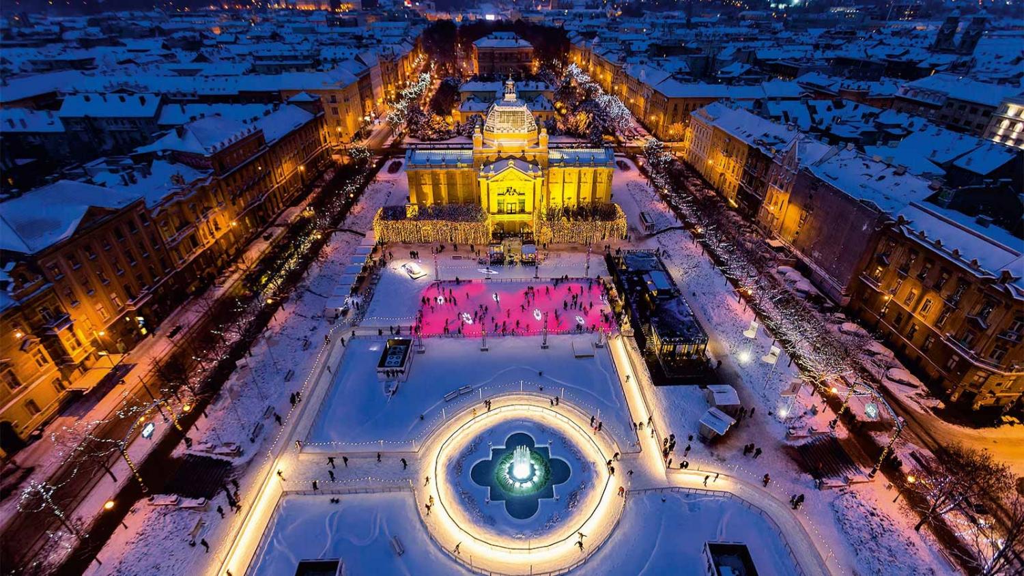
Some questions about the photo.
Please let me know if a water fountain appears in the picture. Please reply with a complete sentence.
Yes, you can see a water fountain in this photo.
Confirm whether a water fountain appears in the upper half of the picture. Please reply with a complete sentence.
No, the scene shows no water fountain in the upper half of the picture.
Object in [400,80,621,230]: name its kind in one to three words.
building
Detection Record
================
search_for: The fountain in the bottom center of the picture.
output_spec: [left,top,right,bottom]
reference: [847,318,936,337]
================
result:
[470,430,574,518]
